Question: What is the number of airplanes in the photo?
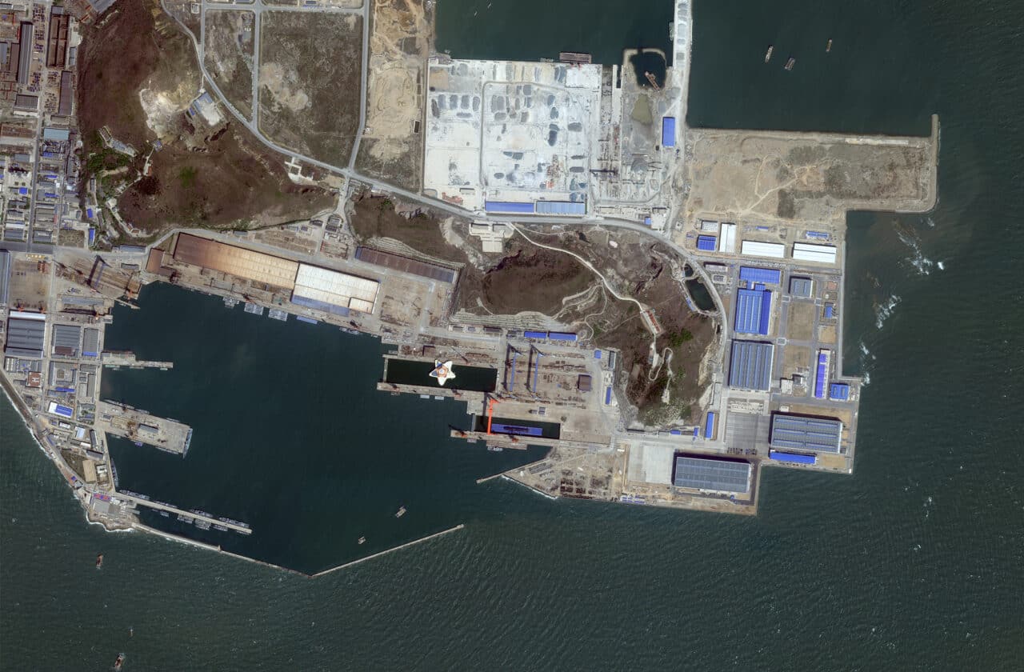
none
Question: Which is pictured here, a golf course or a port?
port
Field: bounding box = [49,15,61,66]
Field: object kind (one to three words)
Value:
shed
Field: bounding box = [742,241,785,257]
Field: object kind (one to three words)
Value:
building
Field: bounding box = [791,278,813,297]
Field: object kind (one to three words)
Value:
building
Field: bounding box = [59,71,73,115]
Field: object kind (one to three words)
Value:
shed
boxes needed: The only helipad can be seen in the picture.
[27,372,42,387]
